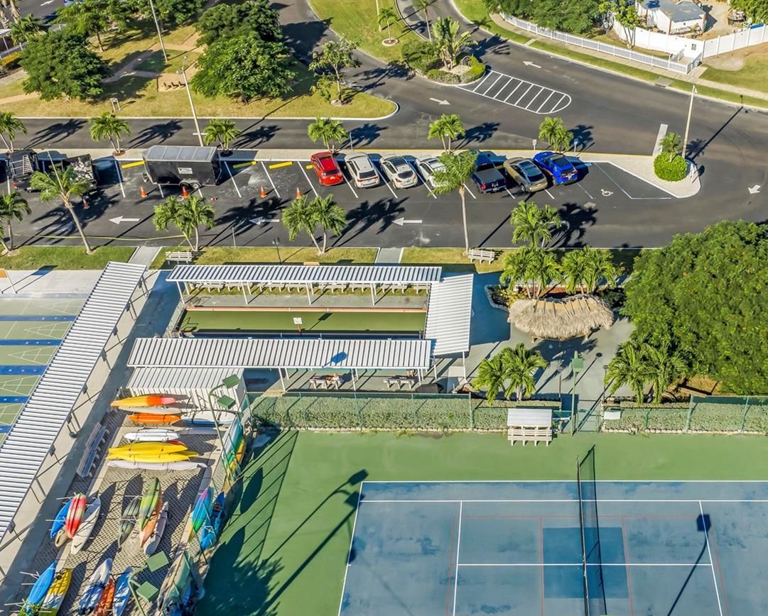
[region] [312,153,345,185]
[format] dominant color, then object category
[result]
red car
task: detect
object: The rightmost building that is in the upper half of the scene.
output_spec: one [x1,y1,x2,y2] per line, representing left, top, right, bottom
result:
[644,0,706,36]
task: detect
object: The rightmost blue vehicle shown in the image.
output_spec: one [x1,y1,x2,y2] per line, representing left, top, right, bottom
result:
[539,150,584,183]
